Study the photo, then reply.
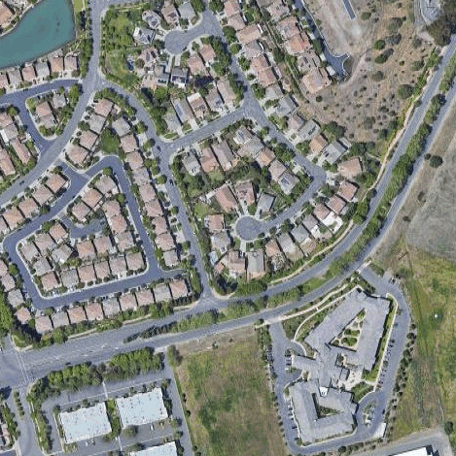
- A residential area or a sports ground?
residential area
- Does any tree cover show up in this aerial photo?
Yes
